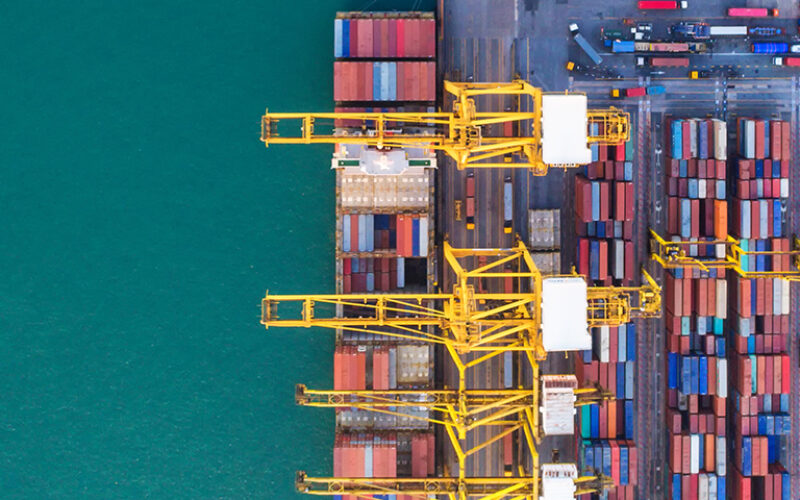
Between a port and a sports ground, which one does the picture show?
port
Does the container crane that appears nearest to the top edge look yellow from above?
Yes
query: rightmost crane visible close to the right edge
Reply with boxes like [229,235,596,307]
[725,234,800,277]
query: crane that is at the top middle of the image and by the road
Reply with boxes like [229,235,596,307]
[262,73,627,181]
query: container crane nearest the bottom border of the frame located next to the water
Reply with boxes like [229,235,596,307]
[296,399,616,500]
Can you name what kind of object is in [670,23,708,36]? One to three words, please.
vehicle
